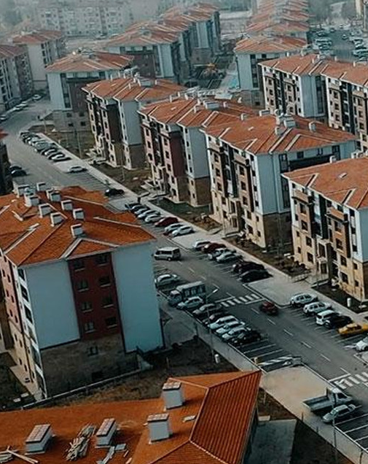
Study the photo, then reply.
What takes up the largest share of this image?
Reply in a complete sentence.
Most of the picture is covered by buildings.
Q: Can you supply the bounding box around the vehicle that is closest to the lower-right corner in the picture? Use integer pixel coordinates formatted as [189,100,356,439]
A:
[322,404,361,425]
